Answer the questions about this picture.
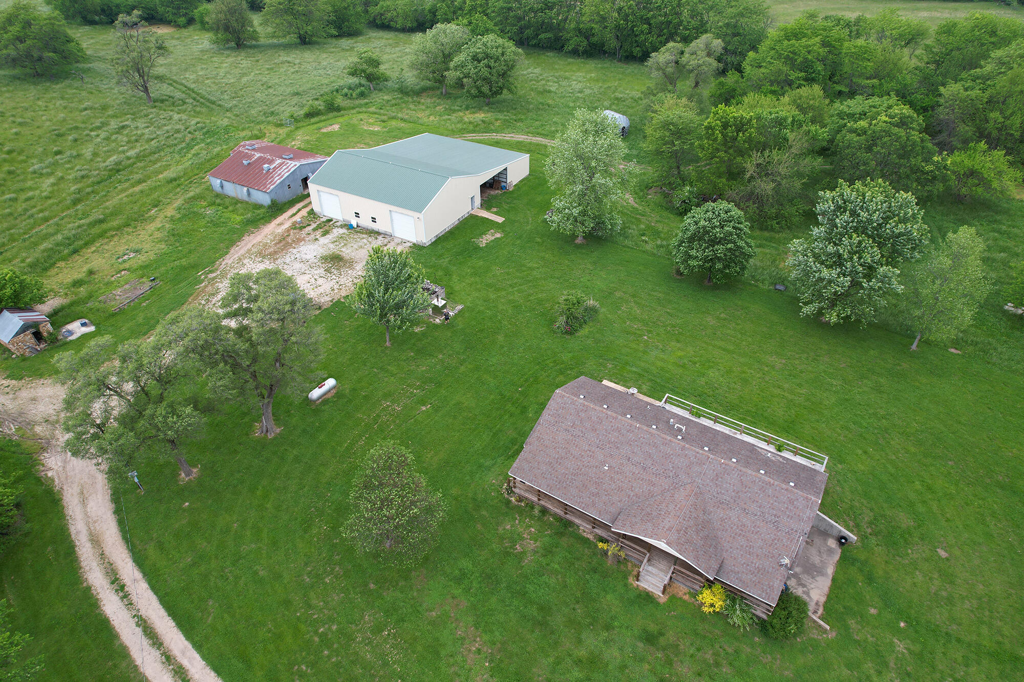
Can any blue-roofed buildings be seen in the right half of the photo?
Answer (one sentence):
No, looking in the right half of the photo, there is no blue-roofed building.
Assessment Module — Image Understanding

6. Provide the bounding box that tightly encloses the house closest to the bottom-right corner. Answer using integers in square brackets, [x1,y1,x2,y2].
[508,376,832,625]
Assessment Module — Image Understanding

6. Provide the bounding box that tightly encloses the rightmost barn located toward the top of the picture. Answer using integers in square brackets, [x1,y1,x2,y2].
[307,132,531,246]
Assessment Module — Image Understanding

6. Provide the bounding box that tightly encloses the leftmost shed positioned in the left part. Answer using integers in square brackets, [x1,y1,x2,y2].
[0,309,58,359]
